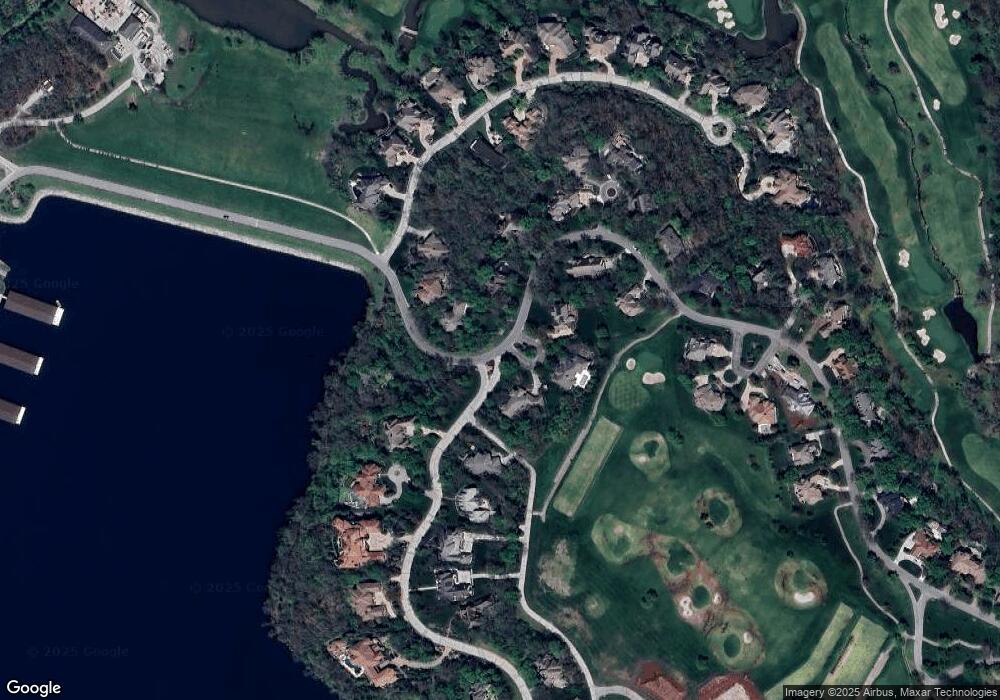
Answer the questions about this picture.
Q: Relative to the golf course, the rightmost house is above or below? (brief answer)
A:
below it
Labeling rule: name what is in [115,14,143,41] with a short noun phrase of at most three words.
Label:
shed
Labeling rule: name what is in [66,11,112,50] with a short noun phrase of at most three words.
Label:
shed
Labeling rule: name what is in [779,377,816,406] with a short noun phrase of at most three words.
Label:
house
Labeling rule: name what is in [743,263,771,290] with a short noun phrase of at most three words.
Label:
house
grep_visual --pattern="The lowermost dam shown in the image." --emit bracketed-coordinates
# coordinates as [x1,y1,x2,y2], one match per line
[0,185,369,286]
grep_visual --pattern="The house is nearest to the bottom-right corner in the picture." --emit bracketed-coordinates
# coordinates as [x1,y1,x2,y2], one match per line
[948,548,990,587]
